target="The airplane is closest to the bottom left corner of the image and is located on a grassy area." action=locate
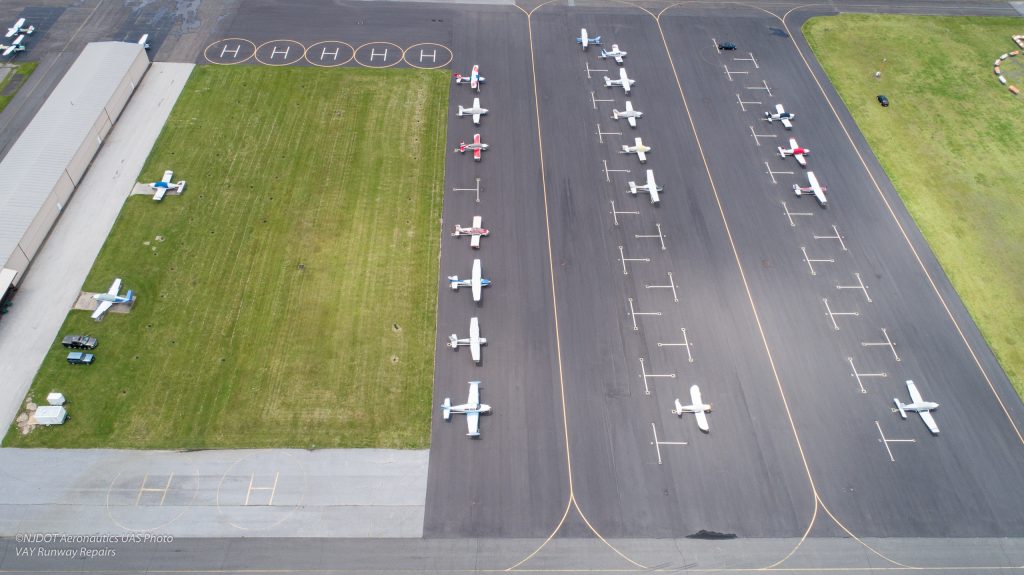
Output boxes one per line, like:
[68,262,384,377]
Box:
[93,279,134,317]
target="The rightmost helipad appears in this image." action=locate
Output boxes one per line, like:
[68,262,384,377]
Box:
[403,43,452,69]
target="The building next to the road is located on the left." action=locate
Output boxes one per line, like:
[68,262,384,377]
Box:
[0,42,150,309]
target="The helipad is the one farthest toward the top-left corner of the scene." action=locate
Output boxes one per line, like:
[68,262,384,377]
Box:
[204,38,255,64]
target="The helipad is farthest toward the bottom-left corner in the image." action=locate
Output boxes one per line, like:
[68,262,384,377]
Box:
[107,449,199,530]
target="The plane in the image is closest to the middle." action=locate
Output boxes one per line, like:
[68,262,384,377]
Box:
[452,259,491,299]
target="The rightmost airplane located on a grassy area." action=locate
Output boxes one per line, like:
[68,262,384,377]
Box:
[149,171,186,199]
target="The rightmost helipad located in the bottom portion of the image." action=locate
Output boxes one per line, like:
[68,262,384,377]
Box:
[217,449,305,530]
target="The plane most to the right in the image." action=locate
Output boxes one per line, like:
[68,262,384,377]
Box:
[893,381,941,432]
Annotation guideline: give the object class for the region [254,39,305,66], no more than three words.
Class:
helipad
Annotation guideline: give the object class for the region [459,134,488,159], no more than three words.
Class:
airplane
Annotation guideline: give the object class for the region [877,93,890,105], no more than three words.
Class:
vehicle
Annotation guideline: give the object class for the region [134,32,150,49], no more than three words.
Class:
airplane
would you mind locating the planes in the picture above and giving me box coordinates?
[607,68,635,90]
[613,102,642,125]
[455,65,486,87]
[675,386,713,430]
[443,382,491,434]
[631,170,664,200]
[794,171,827,201]
[134,32,150,49]
[93,279,134,317]
[0,36,25,55]
[602,45,627,62]
[624,137,651,160]
[459,134,488,159]
[452,259,491,299]
[458,99,488,123]
[149,171,186,199]
[451,317,488,359]
[576,28,602,46]
[778,139,810,164]
[455,216,489,246]
[7,18,35,36]
[893,381,941,432]
[766,105,795,128]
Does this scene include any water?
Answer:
No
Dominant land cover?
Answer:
paved ground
